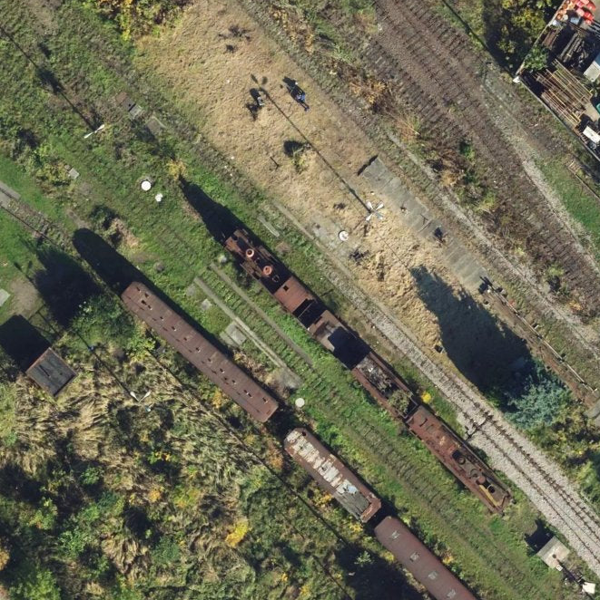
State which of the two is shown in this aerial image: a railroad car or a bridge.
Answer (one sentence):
The image shows a railroad car.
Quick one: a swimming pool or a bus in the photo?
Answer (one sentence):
There is a bus in the scene.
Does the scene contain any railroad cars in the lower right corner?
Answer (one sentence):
Yes, a railroad car is visible in the lower right corner.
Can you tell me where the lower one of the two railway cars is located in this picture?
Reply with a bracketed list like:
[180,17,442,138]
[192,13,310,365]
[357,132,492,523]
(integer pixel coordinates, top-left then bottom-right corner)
[404,406,516,516]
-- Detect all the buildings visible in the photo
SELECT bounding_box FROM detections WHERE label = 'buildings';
[25,346,77,396]
[536,537,570,568]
